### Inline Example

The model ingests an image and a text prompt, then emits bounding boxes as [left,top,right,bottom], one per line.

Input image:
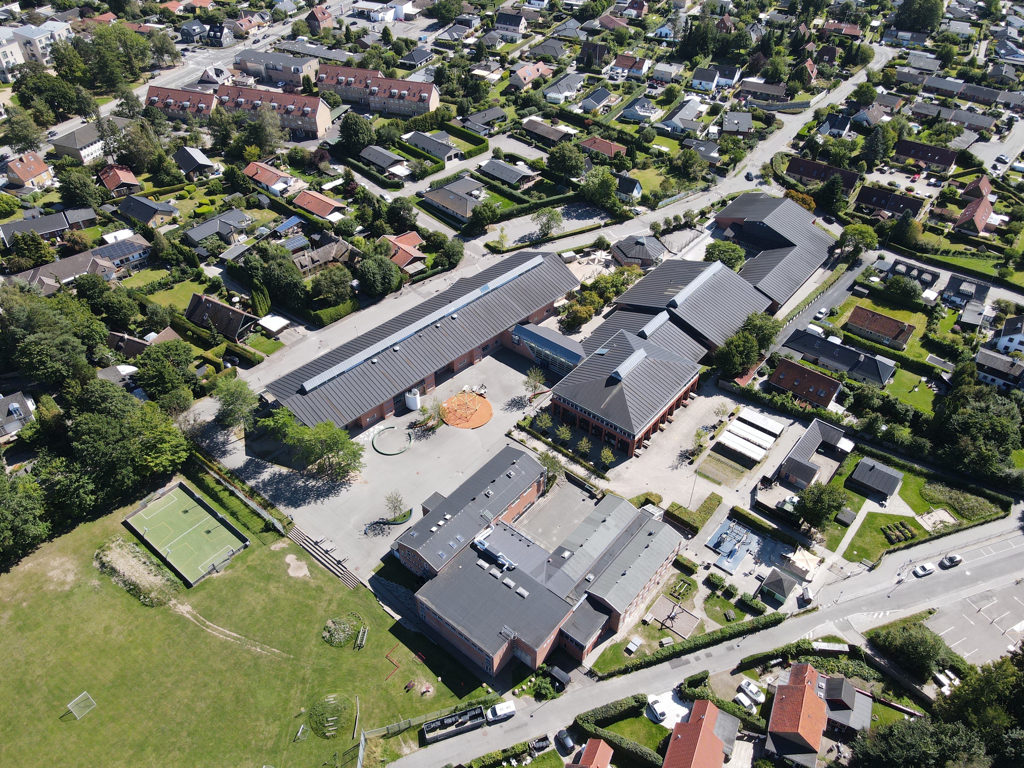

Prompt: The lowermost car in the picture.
[554,727,578,757]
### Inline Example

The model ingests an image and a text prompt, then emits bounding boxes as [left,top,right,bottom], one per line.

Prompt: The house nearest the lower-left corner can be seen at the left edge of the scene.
[0,389,35,435]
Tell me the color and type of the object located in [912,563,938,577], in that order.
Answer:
white car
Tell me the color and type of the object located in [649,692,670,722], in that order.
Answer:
white car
